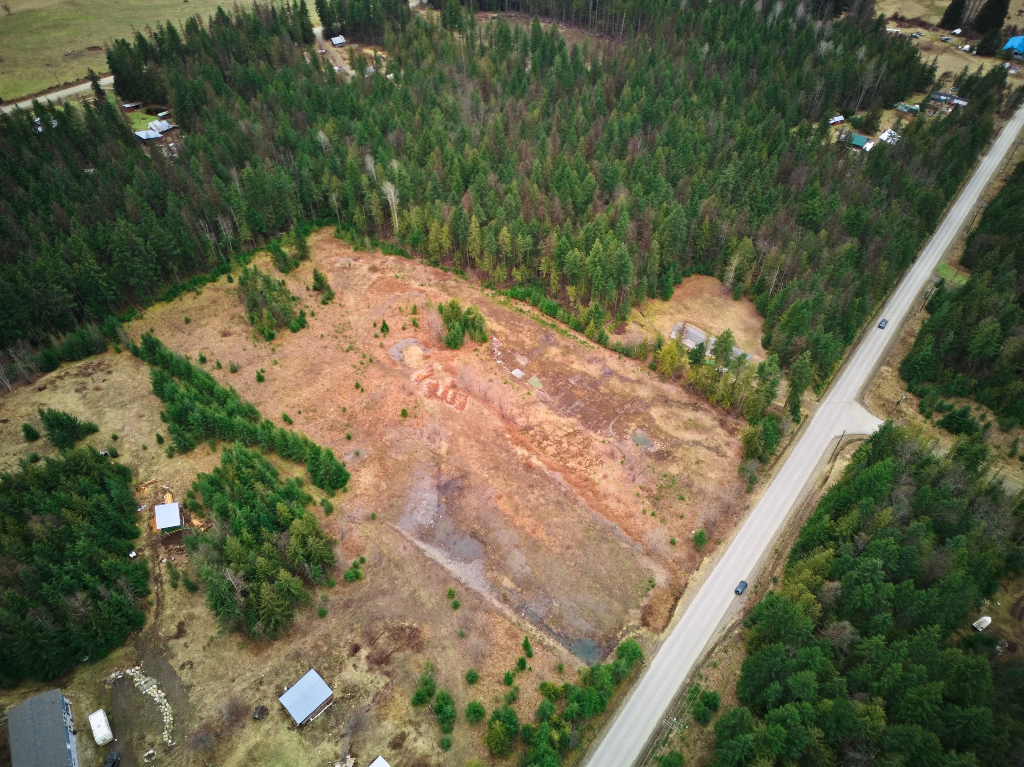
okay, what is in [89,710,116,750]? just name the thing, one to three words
trailer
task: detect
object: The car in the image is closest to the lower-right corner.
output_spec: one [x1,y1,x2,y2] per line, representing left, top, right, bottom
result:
[733,578,750,598]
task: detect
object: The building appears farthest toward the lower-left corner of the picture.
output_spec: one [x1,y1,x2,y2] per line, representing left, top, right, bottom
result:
[7,689,84,767]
